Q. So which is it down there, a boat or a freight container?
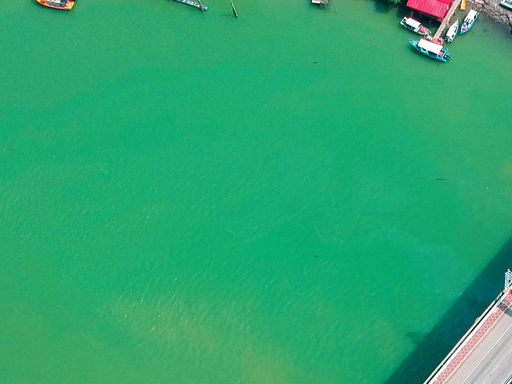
boat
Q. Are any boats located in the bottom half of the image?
No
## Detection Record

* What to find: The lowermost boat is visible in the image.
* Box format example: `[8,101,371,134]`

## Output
[409,37,452,63]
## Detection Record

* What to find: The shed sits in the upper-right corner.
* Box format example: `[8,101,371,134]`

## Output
[406,0,455,26]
